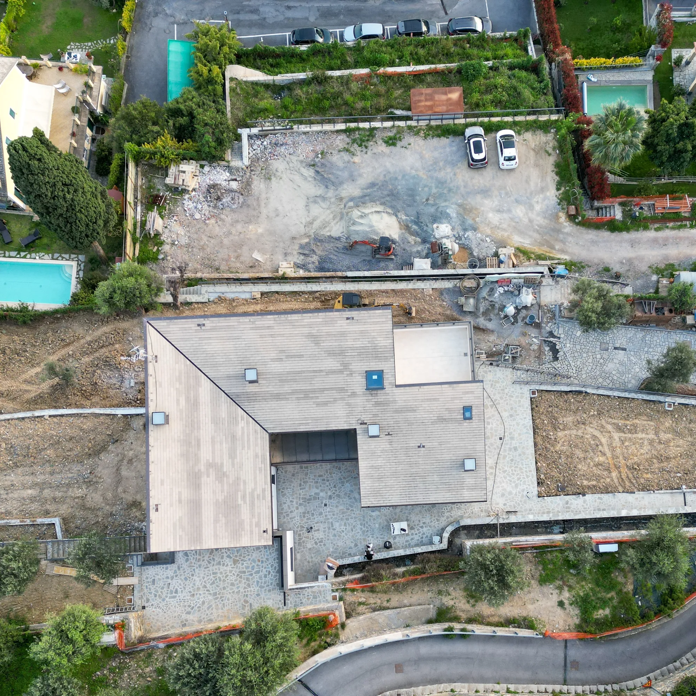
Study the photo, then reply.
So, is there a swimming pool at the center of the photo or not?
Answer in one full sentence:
No, no swimming pool appears at the center of the photo.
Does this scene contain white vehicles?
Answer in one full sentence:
Yes, there's a white vehicle here.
